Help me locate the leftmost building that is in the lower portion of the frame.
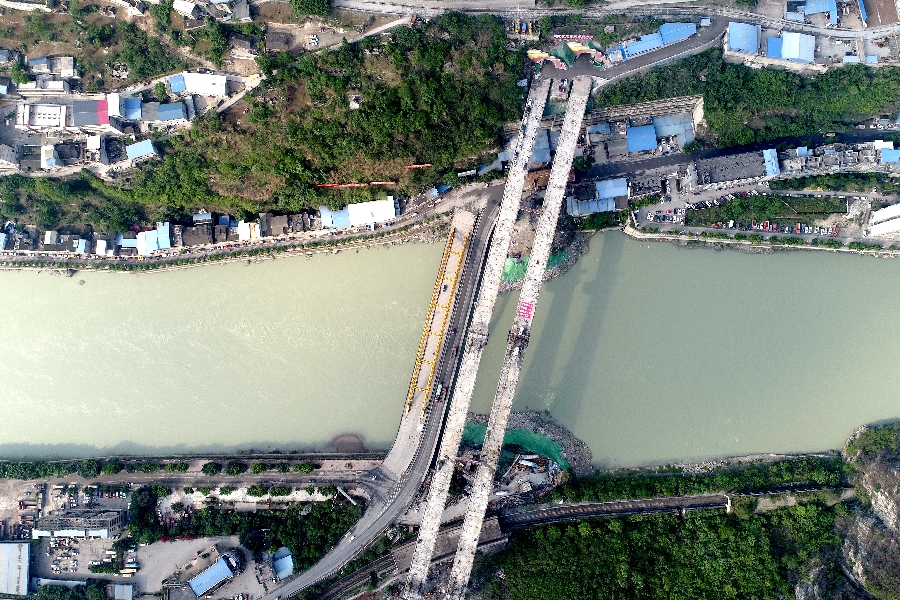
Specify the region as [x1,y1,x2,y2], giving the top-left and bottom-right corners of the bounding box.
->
[0,538,38,595]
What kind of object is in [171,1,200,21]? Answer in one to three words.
barn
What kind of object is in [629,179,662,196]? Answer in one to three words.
shed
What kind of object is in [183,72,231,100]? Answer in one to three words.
building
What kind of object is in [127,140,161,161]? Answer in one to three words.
house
